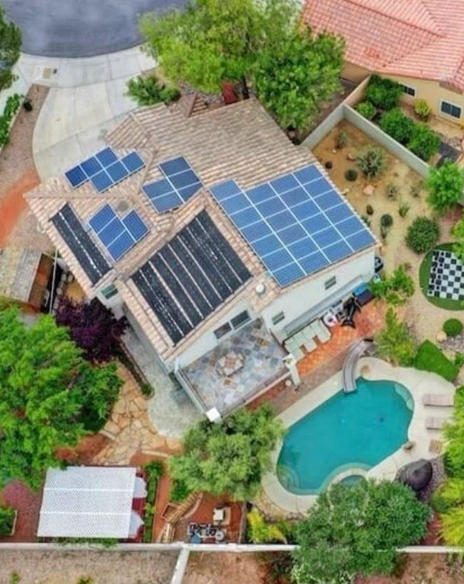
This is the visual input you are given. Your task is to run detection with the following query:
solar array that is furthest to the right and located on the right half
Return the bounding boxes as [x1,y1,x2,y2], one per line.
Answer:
[211,169,373,290]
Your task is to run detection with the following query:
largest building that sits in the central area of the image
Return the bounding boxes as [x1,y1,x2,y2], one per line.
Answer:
[31,87,383,431]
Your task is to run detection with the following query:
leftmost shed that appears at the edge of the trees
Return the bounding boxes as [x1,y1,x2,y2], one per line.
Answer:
[0,252,53,311]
